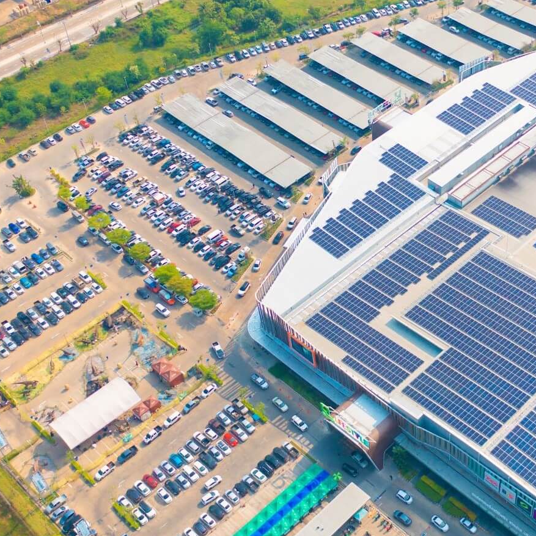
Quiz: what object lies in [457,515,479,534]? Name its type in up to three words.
car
